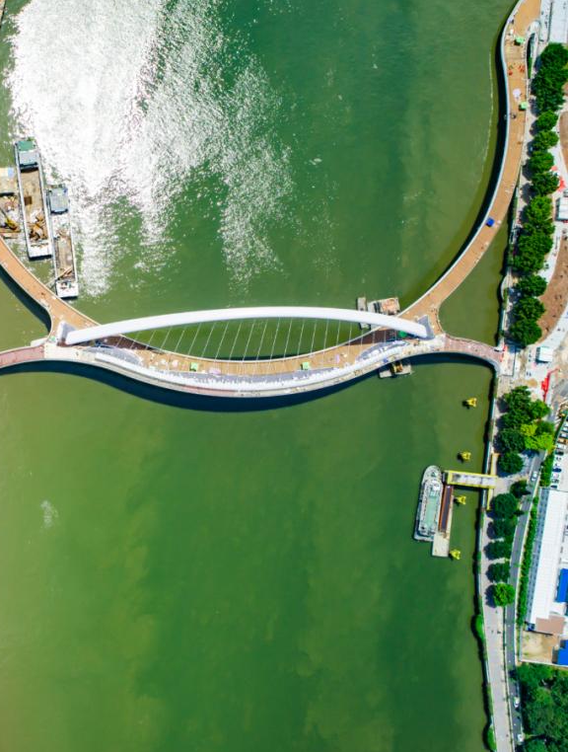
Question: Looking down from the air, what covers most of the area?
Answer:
water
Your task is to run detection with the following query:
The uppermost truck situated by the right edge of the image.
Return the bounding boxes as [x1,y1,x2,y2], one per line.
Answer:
[541,365,568,398]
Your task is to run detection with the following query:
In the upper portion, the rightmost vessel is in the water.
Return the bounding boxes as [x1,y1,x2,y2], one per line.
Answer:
[47,184,77,298]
